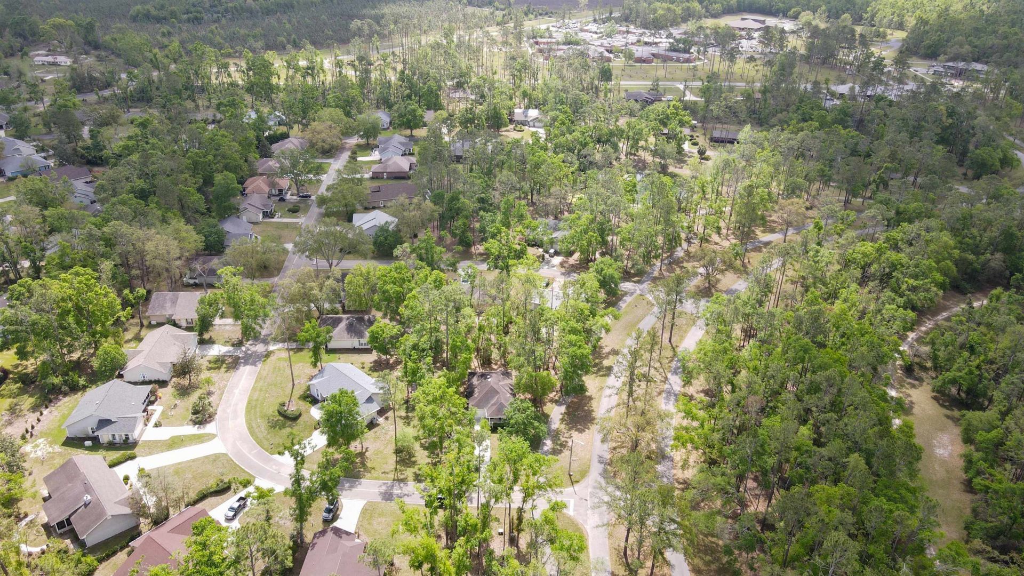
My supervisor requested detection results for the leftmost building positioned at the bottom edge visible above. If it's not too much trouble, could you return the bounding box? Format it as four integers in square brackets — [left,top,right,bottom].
[40,452,144,549]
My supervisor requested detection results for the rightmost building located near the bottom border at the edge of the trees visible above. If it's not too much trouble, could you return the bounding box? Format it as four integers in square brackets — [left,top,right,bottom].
[297,526,381,576]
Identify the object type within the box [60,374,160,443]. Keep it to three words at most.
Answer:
house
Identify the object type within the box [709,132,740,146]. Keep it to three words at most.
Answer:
house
